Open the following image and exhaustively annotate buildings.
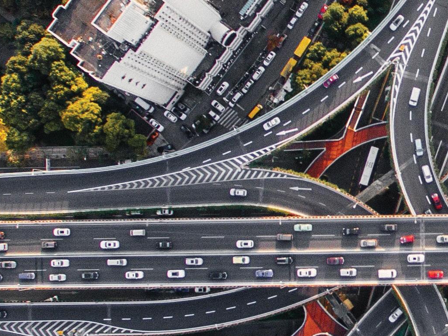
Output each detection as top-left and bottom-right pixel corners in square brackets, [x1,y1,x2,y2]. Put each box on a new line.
[240,0,270,24]
[45,0,234,110]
